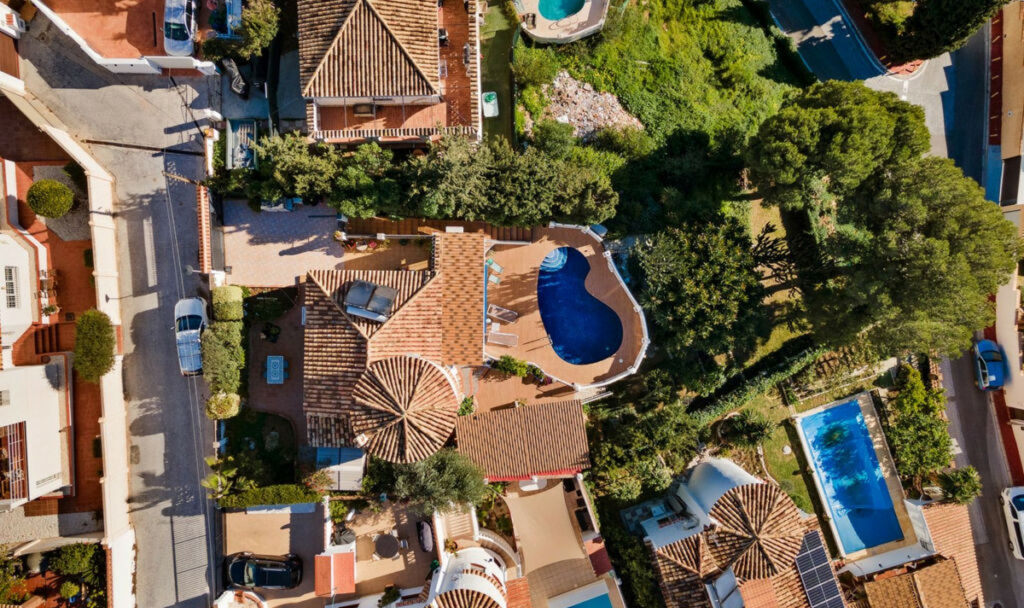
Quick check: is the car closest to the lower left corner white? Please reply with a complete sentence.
No, the car closest to the lower left corner is black.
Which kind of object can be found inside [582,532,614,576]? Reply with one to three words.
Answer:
shed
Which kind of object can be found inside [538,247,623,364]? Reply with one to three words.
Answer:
swimming pool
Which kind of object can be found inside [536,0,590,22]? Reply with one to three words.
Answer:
swimming pool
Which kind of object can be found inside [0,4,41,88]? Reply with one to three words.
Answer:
house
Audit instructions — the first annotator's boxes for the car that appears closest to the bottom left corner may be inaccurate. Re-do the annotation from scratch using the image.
[229,543,309,586]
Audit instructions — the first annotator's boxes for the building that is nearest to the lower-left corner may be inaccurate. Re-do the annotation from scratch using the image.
[0,352,72,508]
